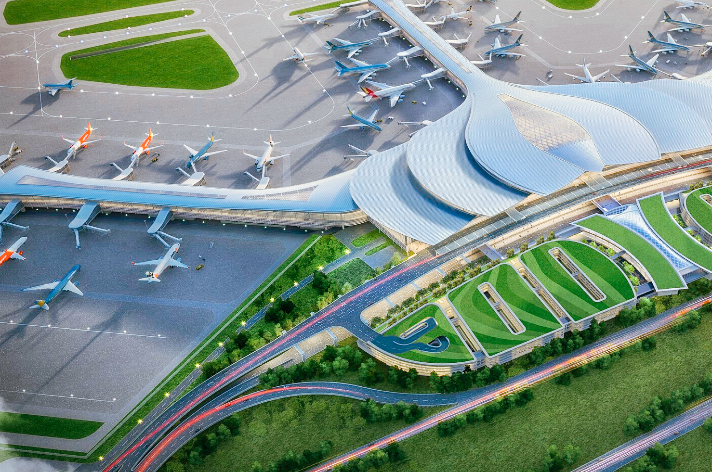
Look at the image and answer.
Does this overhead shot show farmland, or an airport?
airport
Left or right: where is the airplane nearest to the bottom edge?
left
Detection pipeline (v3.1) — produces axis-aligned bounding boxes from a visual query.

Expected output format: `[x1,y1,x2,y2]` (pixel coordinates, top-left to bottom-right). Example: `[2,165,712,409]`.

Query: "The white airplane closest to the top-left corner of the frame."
[59,122,106,155]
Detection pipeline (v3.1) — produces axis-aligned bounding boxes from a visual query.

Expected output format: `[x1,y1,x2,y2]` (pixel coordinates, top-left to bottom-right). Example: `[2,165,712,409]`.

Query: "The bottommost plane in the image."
[25,266,83,309]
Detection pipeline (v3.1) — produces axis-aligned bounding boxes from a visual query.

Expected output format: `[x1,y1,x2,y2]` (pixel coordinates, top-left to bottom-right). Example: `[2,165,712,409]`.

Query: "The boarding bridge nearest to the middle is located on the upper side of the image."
[343,143,386,160]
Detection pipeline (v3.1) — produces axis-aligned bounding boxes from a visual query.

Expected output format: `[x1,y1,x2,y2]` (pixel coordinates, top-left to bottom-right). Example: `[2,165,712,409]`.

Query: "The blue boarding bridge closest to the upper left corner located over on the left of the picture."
[0,203,32,245]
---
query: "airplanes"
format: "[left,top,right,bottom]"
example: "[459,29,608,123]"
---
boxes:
[647,32,691,53]
[325,38,371,54]
[44,80,76,95]
[664,12,705,31]
[25,266,83,309]
[129,245,186,282]
[0,239,27,266]
[440,6,473,20]
[485,37,523,56]
[122,129,168,160]
[284,47,322,63]
[675,0,707,8]
[569,59,604,82]
[485,13,522,32]
[361,82,414,103]
[296,12,334,24]
[339,105,382,132]
[185,135,226,168]
[337,59,389,79]
[241,136,293,172]
[59,122,106,155]
[621,47,658,76]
